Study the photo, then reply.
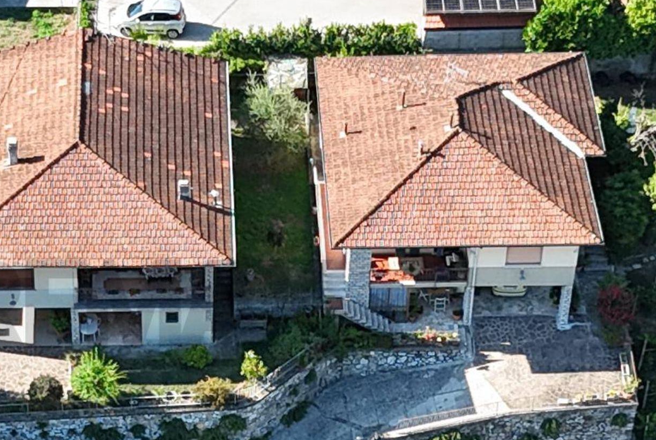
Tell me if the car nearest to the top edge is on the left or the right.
left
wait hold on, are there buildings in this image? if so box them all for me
[0,27,238,349]
[310,49,609,326]
[417,0,536,50]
